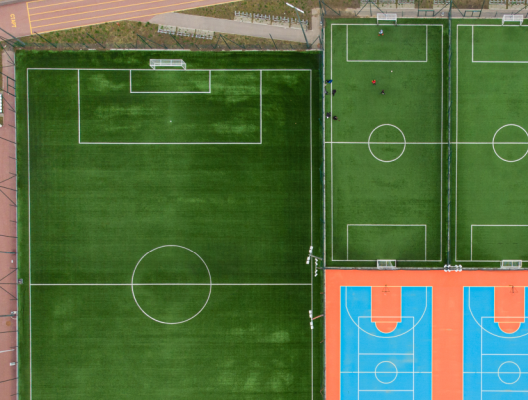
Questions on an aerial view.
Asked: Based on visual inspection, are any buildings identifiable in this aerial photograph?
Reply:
No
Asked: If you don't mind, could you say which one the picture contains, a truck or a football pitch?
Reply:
football pitch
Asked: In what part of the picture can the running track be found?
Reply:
top left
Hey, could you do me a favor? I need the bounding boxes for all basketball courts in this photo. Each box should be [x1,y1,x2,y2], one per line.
[326,270,448,400]
[448,270,528,400]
